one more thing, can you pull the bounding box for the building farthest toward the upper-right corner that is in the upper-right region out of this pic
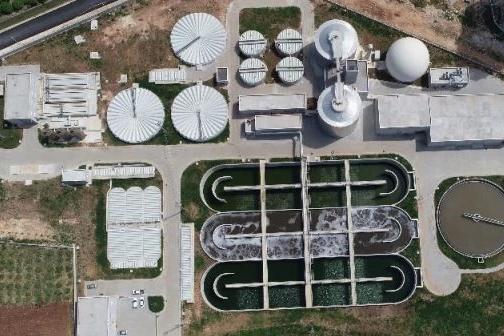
[427,66,469,88]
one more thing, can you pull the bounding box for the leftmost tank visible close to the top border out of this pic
[170,14,227,75]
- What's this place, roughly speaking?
industrial area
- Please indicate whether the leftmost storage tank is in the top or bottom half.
top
